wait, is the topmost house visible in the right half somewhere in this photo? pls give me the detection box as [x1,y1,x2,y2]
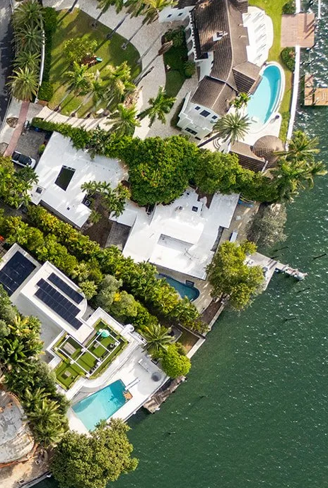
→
[148,0,262,139]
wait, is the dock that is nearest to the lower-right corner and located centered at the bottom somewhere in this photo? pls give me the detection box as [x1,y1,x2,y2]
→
[147,373,187,414]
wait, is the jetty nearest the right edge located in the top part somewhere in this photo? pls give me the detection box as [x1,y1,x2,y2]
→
[299,75,328,109]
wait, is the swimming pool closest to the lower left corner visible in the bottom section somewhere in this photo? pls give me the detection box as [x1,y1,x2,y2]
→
[71,376,136,429]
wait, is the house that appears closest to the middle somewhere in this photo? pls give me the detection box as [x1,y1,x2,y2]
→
[116,183,240,284]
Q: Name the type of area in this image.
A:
residential area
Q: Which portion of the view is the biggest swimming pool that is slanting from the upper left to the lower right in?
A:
center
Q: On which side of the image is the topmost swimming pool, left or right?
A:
right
